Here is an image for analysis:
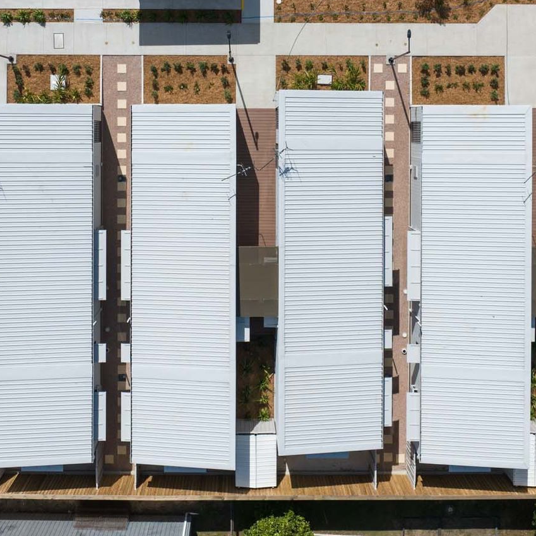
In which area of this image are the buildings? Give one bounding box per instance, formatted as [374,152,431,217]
[0,104,105,472]
[264,90,392,459]
[121,104,250,473]
[407,105,534,473]
[0,511,190,536]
